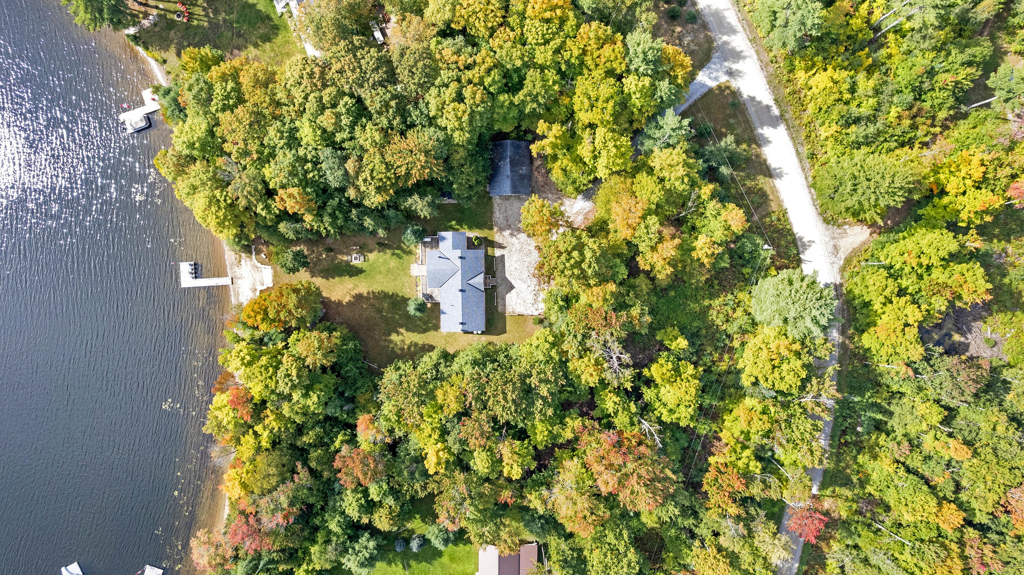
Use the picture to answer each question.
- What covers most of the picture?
trees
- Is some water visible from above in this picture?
Yes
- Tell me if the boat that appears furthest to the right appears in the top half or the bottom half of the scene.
top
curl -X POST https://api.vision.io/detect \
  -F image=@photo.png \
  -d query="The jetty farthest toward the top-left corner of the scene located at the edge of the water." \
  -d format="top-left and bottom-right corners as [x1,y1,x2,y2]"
[119,88,162,122]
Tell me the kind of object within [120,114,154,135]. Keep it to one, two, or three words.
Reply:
boat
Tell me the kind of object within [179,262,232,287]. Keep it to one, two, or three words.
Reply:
pier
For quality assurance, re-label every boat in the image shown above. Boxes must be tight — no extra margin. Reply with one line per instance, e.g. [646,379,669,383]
[120,114,154,135]
[61,560,86,575]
